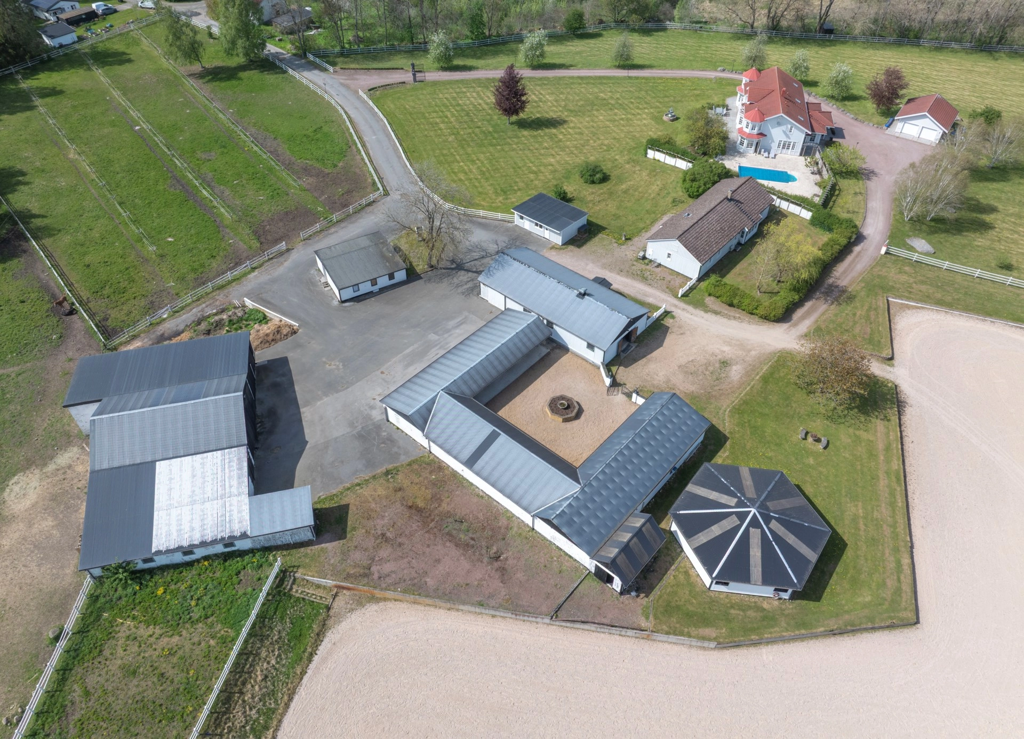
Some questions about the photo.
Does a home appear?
Yes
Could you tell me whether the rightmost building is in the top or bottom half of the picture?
top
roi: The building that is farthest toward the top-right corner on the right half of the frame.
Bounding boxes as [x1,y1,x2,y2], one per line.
[895,93,959,141]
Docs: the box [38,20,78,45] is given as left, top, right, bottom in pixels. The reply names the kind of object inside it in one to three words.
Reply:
shed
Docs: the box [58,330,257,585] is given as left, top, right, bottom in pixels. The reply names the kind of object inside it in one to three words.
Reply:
barn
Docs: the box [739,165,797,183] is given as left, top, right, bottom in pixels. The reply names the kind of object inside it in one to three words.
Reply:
swimming pool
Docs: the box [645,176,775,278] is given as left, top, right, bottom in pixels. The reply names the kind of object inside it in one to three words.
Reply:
house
